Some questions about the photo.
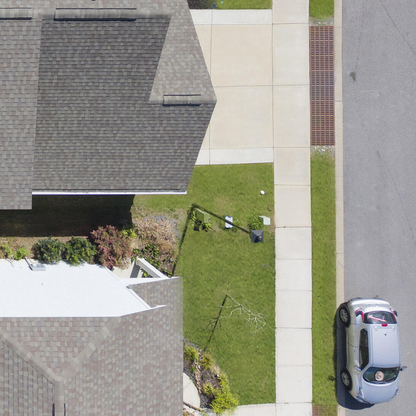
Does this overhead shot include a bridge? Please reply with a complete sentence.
No, the photo shows no bridge.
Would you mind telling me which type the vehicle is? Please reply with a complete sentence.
In the photo, the vehicle shows up as a car.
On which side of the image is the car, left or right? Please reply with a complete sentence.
You can find the car on the right side of the picture.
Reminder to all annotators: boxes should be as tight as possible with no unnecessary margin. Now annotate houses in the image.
[0,253,182,416]
[0,0,217,210]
